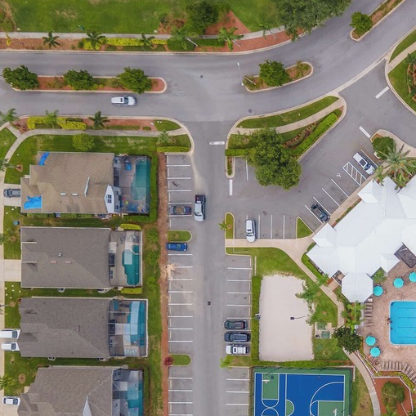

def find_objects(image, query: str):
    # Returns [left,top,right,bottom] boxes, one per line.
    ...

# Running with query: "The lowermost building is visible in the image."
[17,367,120,416]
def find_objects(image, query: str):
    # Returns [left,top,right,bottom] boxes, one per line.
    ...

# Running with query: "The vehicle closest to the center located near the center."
[193,194,205,222]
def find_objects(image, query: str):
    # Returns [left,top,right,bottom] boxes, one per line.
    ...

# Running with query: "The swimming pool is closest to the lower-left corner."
[126,380,142,416]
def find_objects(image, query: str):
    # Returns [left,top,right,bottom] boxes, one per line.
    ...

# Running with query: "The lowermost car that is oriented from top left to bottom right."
[309,201,331,224]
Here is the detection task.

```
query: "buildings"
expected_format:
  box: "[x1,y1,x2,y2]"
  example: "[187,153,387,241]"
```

[307,174,416,303]
[16,297,117,358]
[18,226,117,288]
[20,151,120,214]
[17,367,120,416]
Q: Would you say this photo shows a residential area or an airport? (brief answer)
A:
residential area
